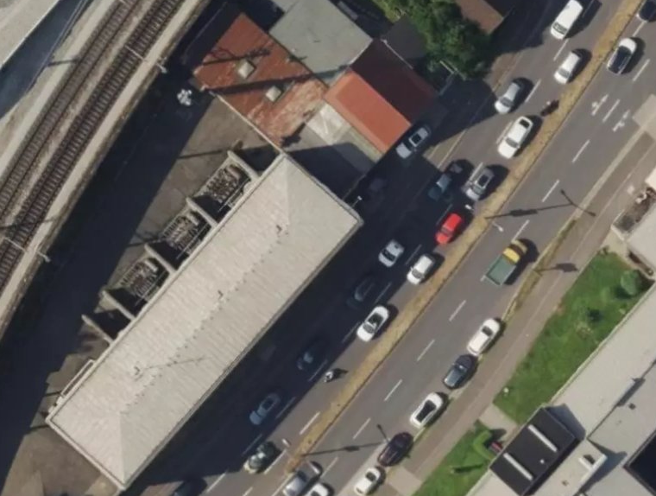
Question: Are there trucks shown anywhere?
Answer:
Yes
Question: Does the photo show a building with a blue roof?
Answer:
No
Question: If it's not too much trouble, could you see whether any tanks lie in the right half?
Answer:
No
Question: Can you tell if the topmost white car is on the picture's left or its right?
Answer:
right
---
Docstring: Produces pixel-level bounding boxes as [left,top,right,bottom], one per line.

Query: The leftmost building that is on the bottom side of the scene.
[46,150,364,490]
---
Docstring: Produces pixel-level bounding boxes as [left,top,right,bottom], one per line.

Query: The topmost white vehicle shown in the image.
[551,0,584,39]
